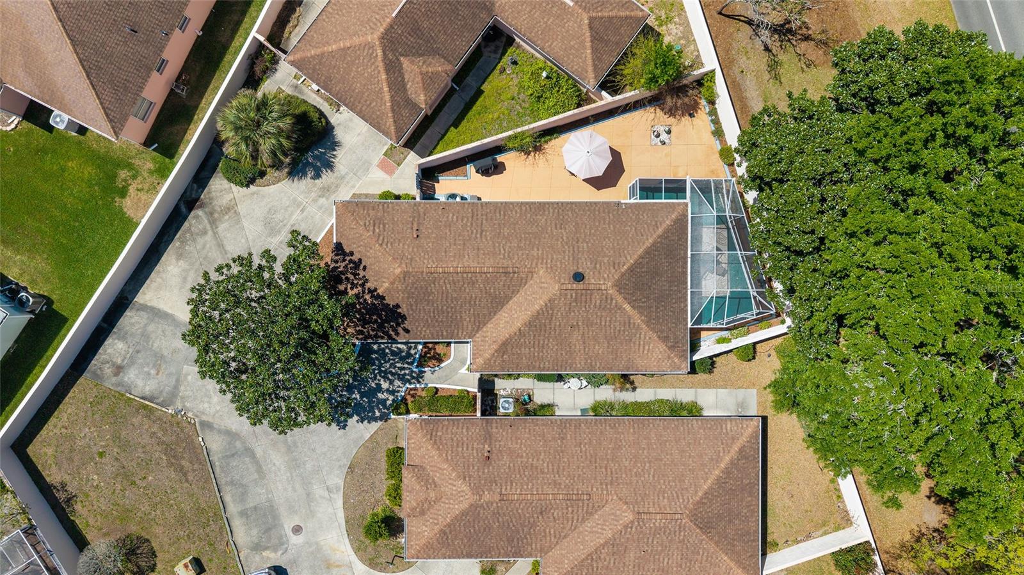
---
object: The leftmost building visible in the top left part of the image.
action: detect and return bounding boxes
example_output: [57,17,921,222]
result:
[0,0,214,146]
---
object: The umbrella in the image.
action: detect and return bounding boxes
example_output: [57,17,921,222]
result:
[562,130,612,181]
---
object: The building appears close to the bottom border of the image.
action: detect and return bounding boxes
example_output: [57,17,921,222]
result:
[385,414,765,575]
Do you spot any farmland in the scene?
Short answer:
No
